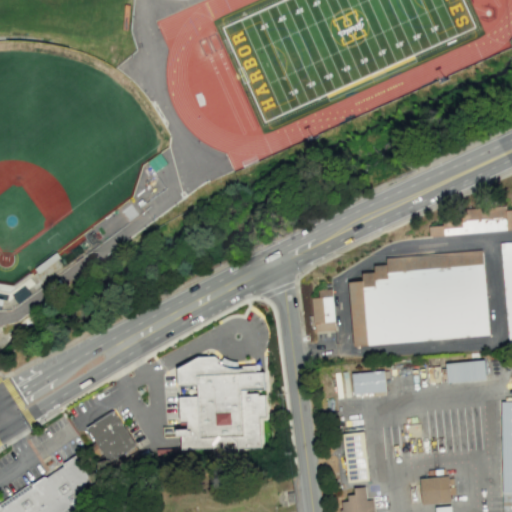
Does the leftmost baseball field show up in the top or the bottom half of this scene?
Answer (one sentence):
The leftmost baseball field is in the top half of the image.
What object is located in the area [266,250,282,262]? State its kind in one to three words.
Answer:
vehicle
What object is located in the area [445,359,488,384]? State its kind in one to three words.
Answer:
shed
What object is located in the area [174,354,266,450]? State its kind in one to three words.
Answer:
building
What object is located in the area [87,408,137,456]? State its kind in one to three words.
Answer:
building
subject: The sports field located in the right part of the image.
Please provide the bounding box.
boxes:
[214,0,485,134]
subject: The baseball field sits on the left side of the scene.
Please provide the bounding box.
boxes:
[0,40,171,281]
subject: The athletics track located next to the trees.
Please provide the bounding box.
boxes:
[158,0,512,170]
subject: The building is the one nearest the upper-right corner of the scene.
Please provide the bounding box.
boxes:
[428,206,512,238]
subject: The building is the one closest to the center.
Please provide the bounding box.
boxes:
[312,289,338,334]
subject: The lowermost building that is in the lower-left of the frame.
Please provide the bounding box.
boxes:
[0,454,94,512]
